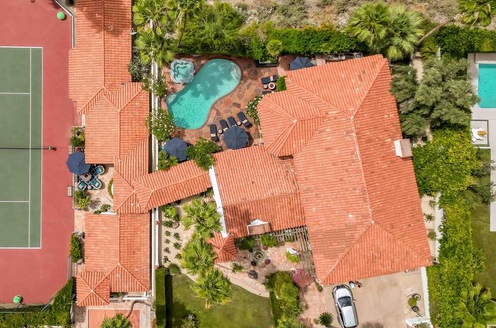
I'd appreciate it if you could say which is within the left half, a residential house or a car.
residential house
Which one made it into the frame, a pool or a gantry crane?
pool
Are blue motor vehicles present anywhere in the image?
No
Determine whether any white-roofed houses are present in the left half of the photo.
No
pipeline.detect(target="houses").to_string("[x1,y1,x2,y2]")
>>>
[209,54,431,286]
[69,0,150,307]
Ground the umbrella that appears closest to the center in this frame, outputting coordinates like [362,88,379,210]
[223,123,249,149]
